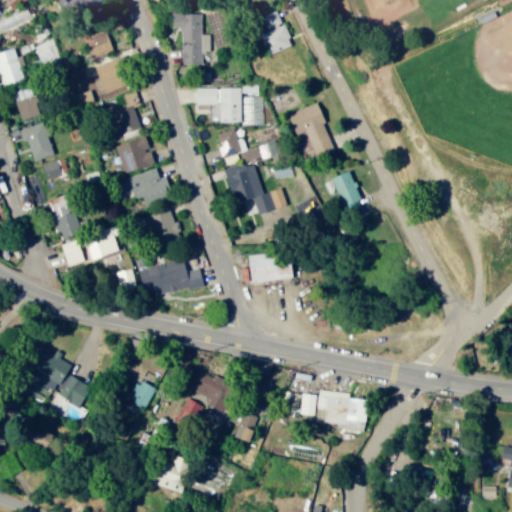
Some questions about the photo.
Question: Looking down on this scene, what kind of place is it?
residential area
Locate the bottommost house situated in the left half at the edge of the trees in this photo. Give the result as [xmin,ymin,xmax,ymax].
[158,456,184,494]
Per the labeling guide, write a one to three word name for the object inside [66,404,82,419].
swimming pool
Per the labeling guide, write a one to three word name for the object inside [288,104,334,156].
house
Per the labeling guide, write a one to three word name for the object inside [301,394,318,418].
building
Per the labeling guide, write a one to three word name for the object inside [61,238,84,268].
house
